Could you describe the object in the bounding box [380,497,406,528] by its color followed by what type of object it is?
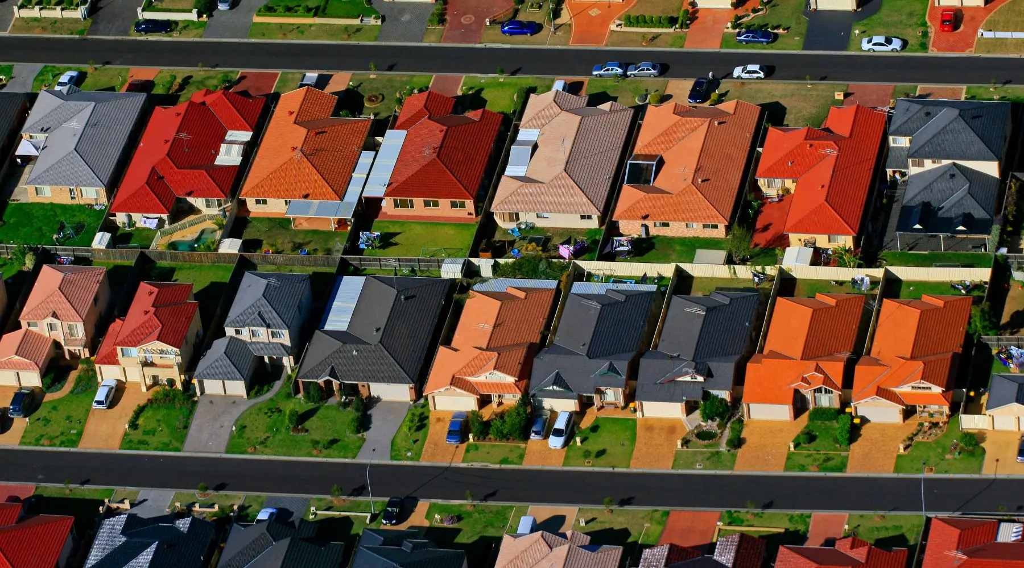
black car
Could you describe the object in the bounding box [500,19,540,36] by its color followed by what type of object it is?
blue car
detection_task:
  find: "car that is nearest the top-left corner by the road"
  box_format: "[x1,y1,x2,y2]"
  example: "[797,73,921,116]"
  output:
[49,67,83,90]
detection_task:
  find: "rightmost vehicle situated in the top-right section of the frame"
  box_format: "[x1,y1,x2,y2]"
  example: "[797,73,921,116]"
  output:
[938,9,957,30]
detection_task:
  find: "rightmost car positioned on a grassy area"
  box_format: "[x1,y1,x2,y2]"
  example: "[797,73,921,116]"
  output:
[860,34,903,52]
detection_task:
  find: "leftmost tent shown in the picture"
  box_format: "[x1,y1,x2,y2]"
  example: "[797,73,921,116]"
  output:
[16,140,45,169]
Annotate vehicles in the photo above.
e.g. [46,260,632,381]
[860,34,903,52]
[1016,433,1024,461]
[549,412,574,445]
[297,66,319,88]
[133,16,173,33]
[819,531,838,546]
[732,63,767,80]
[734,28,775,45]
[548,75,569,93]
[528,414,550,439]
[92,380,118,408]
[938,9,957,30]
[500,19,540,36]
[512,516,536,533]
[446,416,468,443]
[590,61,627,78]
[624,62,661,78]
[49,67,83,90]
[250,504,280,523]
[380,497,406,528]
[9,389,34,416]
[688,76,710,101]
